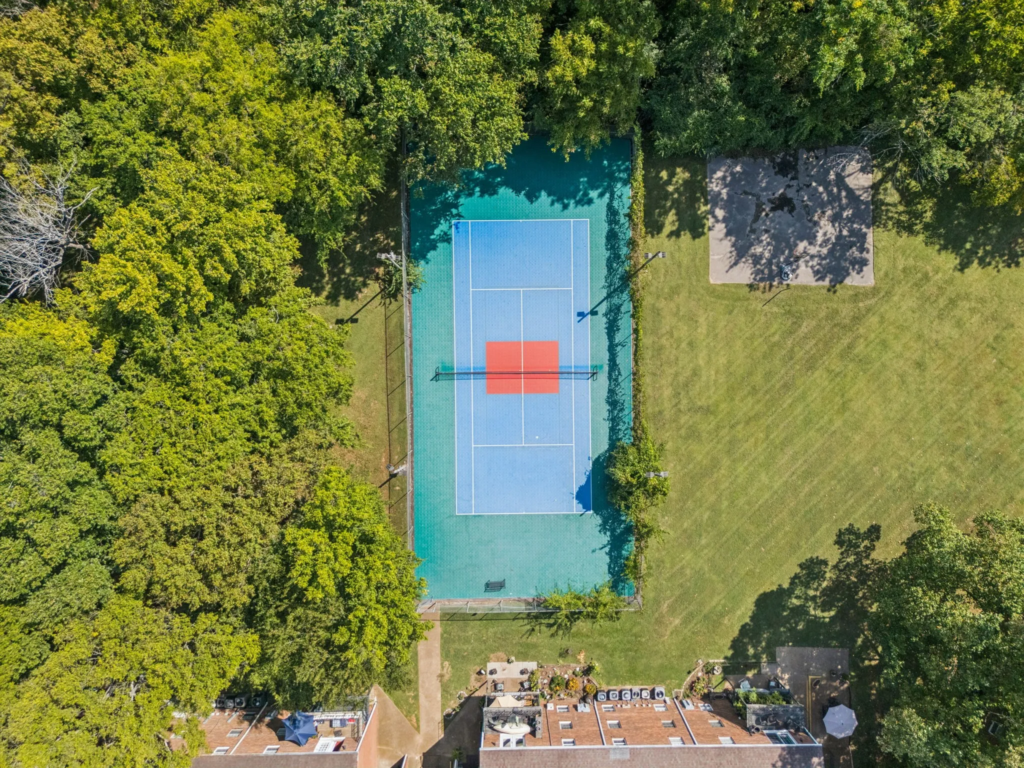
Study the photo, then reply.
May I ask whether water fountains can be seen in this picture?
No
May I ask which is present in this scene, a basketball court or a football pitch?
basketball court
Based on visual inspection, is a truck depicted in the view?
No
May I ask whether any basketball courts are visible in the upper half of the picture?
Yes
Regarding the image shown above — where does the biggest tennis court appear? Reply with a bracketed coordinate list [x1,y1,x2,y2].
[409,139,635,600]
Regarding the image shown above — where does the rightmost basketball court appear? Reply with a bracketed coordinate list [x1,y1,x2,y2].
[707,145,875,285]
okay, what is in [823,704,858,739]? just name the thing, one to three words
umbrella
